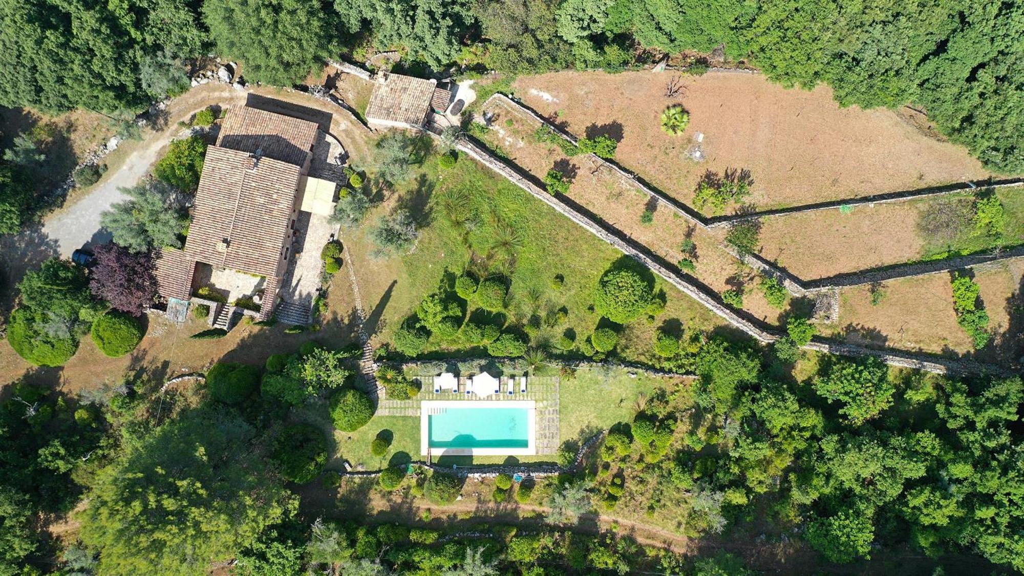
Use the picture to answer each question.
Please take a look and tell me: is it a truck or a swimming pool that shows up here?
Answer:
swimming pool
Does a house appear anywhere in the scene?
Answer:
Yes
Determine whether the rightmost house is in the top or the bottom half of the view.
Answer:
top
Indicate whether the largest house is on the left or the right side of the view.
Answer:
left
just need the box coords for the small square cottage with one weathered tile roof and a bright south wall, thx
[364,71,453,129]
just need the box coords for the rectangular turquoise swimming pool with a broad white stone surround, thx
[421,401,536,455]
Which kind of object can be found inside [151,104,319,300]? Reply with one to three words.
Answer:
house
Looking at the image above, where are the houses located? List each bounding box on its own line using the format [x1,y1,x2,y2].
[364,71,453,129]
[151,104,319,300]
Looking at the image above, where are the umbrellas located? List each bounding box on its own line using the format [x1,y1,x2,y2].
[440,373,456,389]
[473,370,497,399]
